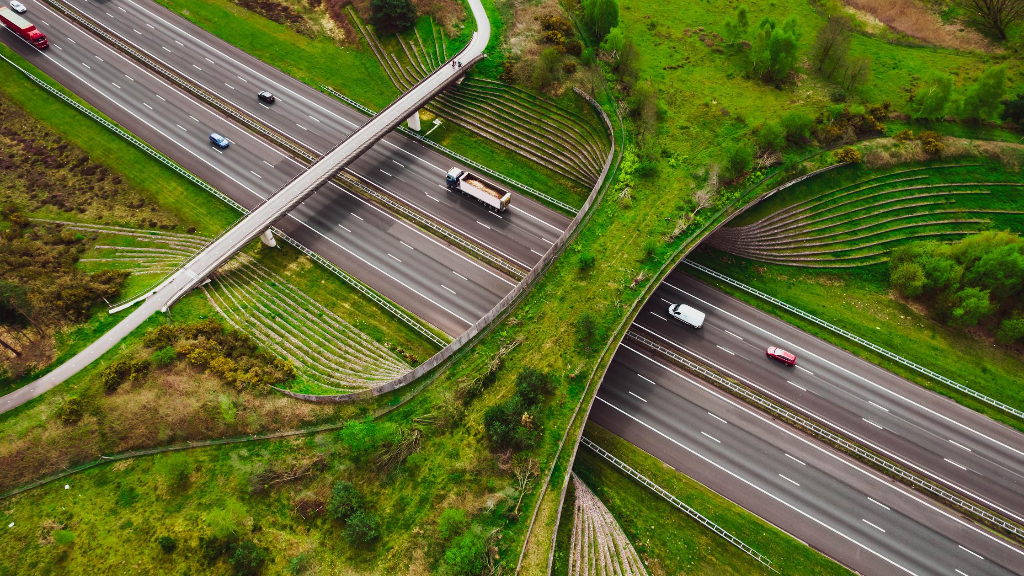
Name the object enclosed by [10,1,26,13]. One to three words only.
vehicle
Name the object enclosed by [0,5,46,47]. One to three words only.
truck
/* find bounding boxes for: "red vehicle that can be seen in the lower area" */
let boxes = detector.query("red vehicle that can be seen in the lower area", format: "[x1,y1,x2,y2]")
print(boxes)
[766,347,797,367]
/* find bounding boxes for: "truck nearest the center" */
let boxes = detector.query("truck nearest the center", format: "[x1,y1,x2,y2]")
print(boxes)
[446,165,511,213]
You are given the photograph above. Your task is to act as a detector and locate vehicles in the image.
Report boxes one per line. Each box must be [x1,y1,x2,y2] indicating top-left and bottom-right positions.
[446,165,511,213]
[10,1,26,13]
[766,347,797,367]
[210,132,230,148]
[0,5,46,47]
[257,92,275,104]
[668,305,707,331]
